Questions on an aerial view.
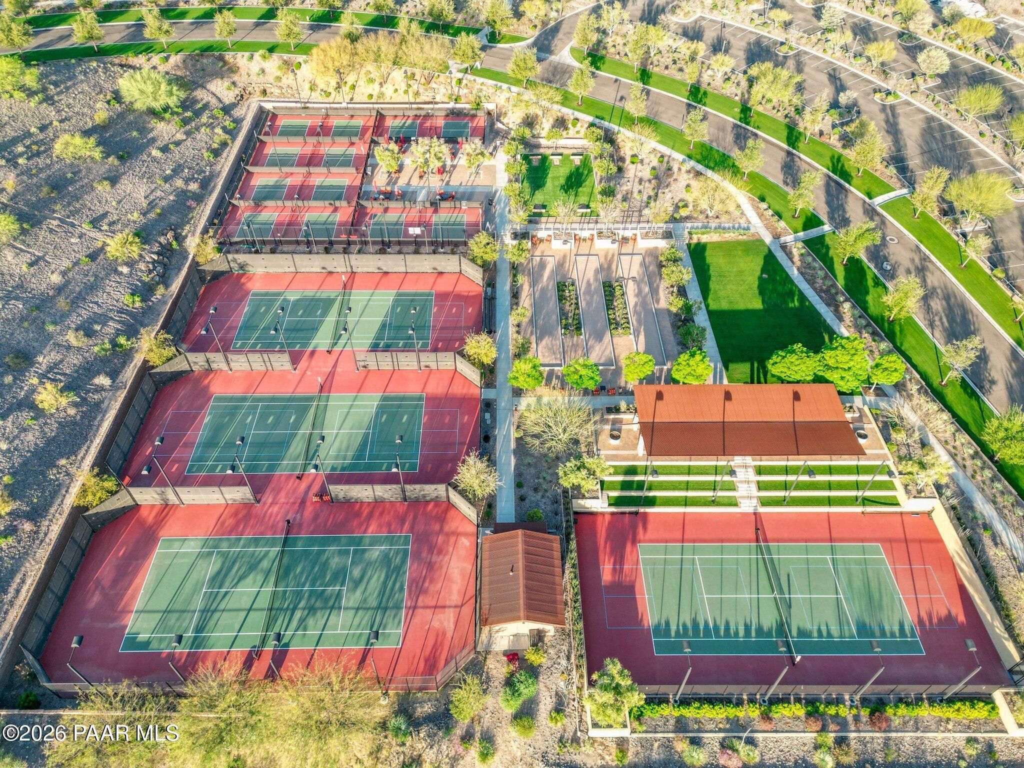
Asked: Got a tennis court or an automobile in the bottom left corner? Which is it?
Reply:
tennis court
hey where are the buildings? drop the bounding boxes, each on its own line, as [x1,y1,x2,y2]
[618,383,870,457]
[481,522,567,637]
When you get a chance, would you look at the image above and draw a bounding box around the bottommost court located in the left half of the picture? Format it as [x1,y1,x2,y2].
[39,501,476,697]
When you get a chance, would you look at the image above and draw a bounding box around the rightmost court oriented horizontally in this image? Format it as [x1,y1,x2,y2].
[574,511,1008,696]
